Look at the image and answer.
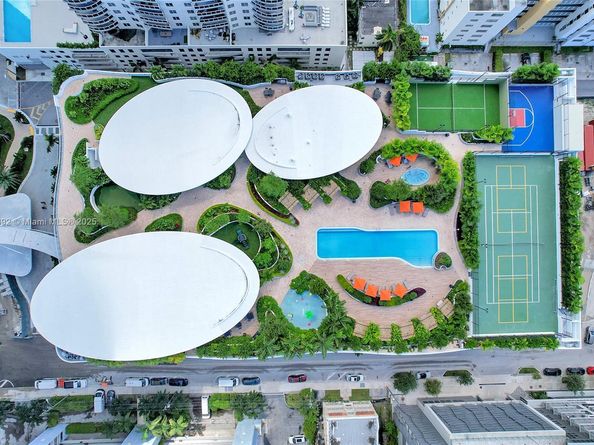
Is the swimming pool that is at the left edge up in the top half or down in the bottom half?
top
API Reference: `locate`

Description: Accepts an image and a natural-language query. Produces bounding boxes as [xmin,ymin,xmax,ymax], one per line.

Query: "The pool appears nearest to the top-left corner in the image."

[3,0,32,43]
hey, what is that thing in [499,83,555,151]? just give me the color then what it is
blue basketball court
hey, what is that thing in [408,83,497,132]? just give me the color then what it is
green sports court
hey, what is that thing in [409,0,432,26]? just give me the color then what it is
blue swimming pool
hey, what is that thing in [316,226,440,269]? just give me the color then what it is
blue swimming pool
